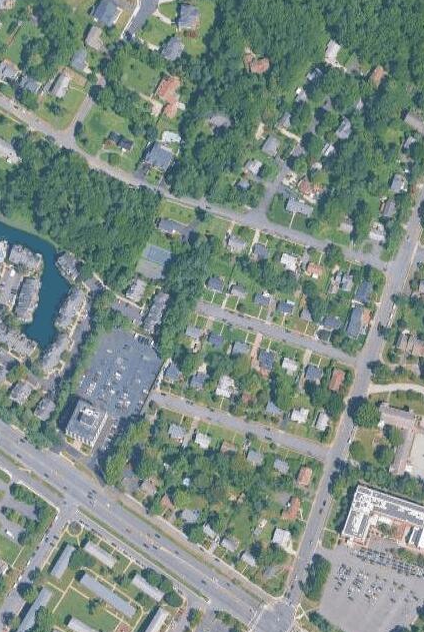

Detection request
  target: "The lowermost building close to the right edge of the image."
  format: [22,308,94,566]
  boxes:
[343,485,424,549]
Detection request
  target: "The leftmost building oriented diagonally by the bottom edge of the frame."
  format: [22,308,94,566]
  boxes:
[15,586,54,632]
